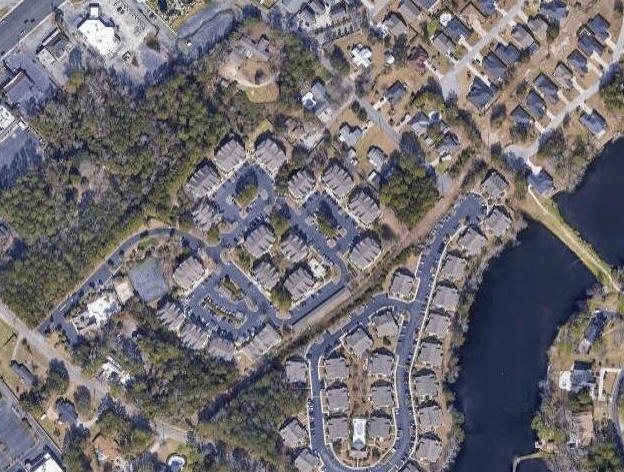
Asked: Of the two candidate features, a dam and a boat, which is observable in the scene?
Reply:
dam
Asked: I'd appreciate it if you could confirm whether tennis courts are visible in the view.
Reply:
Yes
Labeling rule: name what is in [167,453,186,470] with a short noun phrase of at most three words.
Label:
swimming pool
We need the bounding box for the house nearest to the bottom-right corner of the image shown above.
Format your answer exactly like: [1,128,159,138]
[575,409,593,444]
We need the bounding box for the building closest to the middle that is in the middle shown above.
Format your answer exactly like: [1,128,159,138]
[277,230,311,263]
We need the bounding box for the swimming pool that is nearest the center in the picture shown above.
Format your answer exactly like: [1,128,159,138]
[309,258,326,276]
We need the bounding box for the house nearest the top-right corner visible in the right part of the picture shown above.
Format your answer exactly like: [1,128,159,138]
[588,14,611,39]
